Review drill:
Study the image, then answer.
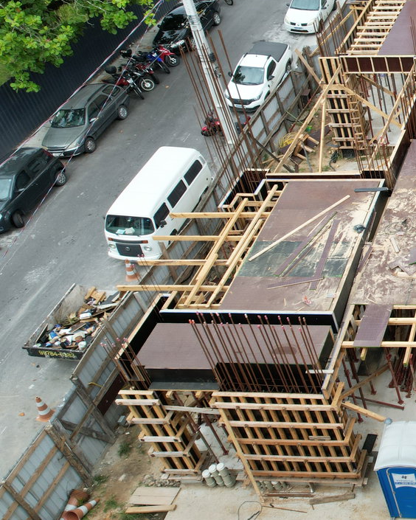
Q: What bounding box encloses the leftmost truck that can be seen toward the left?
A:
[0,148,62,233]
